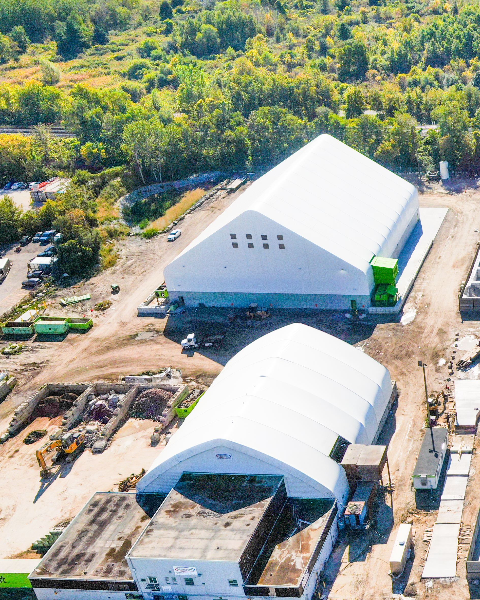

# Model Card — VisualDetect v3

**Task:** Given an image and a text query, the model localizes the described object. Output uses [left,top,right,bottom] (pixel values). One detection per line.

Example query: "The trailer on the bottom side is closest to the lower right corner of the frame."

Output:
[390,524,413,585]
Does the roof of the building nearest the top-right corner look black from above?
No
